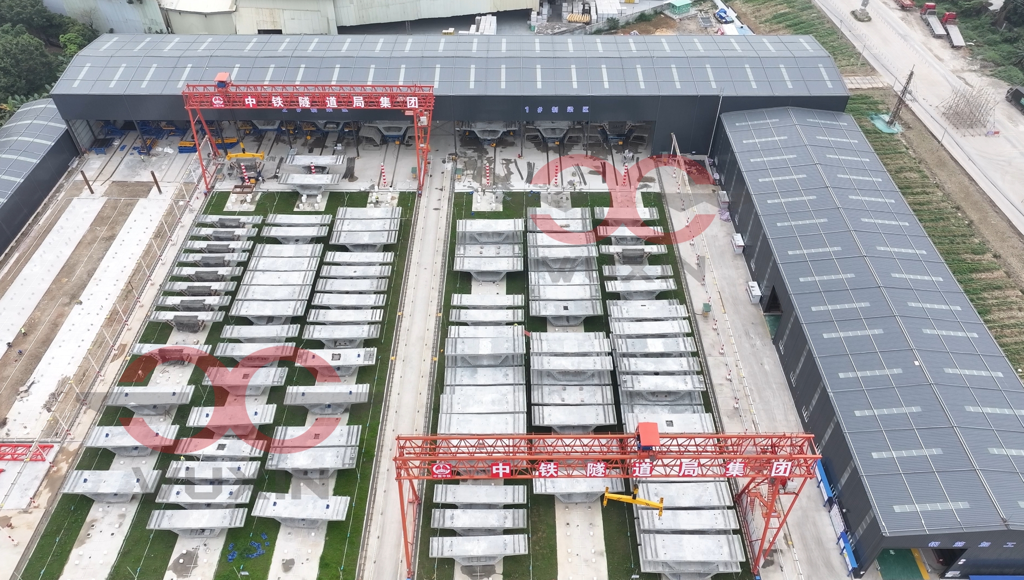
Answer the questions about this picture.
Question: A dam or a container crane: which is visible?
container crane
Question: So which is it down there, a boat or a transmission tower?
transmission tower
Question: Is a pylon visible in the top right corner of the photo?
Yes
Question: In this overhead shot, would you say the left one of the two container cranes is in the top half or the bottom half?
top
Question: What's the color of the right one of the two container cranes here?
red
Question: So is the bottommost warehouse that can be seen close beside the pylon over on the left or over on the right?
right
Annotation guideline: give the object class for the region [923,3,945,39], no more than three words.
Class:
truck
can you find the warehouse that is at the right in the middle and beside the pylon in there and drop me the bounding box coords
[708,106,1024,580]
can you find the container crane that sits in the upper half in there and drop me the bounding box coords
[177,78,431,193]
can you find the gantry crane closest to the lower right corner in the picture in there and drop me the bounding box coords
[393,425,824,579]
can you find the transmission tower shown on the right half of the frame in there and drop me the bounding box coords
[890,59,926,127]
